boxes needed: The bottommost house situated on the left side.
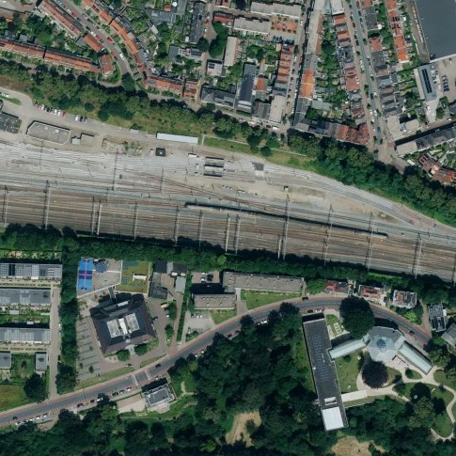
[145,385,176,413]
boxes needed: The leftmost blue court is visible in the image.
[75,257,94,294]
